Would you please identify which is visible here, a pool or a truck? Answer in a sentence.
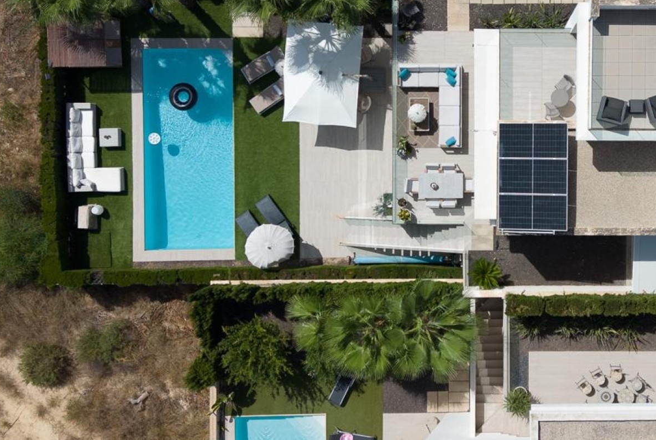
Of the two, only a pool appears.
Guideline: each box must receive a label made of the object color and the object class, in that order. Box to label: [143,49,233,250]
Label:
blue swimming pool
